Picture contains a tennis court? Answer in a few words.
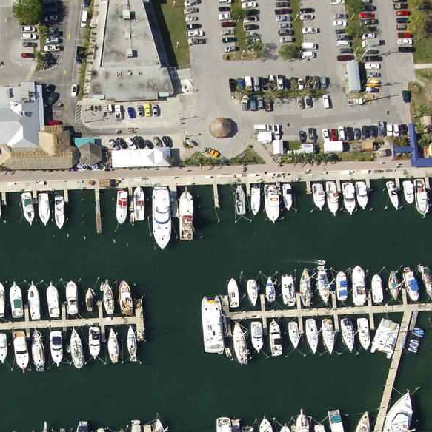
No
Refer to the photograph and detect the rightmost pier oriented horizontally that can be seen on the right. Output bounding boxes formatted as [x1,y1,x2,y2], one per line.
[221,288,432,336]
